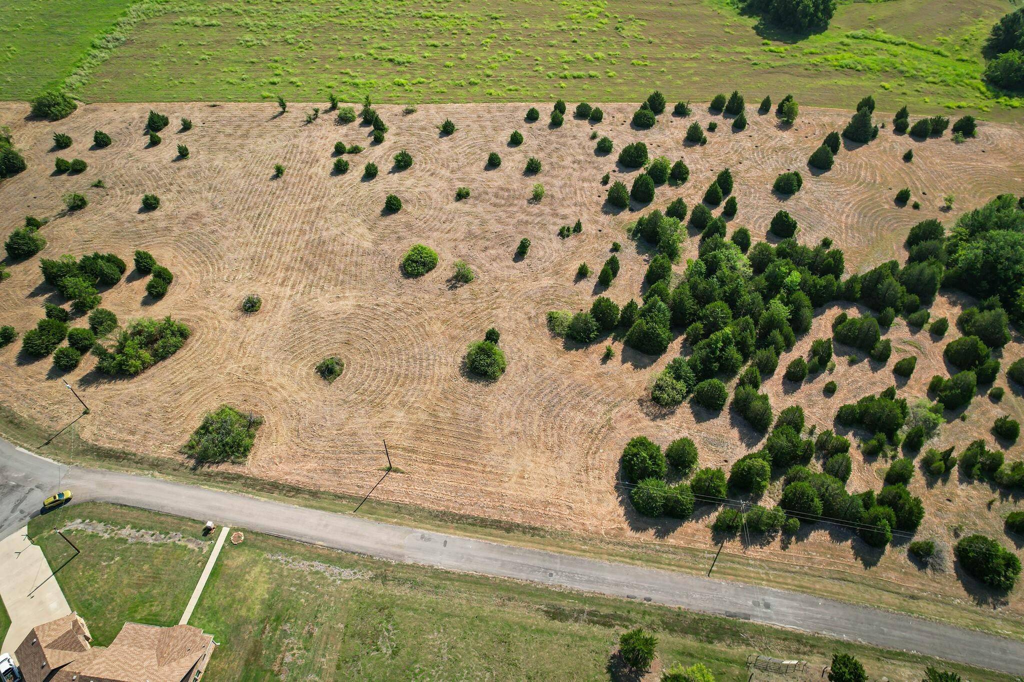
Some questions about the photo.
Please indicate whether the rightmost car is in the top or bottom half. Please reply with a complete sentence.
Seen from above, the rightmost car lies in the bottom half of the view.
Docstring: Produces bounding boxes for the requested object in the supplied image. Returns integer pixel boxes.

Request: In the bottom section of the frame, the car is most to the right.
[42,491,73,511]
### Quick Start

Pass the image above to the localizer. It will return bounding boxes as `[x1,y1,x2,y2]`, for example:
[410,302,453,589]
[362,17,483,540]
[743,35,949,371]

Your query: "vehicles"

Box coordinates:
[0,655,23,682]
[42,491,73,511]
